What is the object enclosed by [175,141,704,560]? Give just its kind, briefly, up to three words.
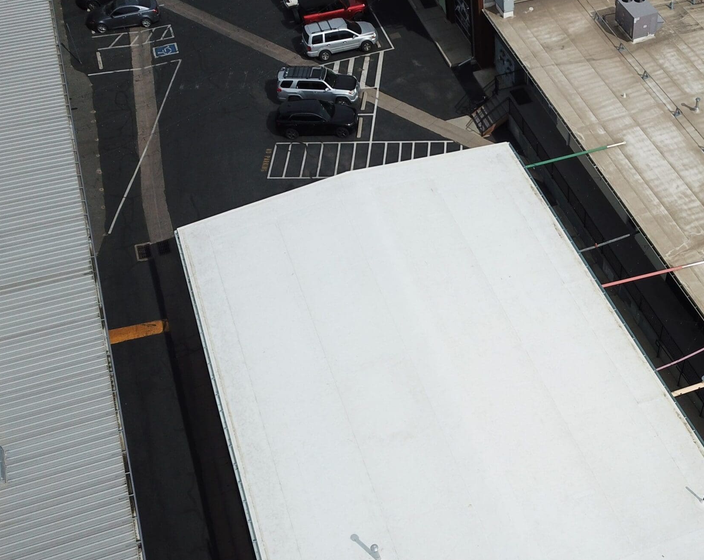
building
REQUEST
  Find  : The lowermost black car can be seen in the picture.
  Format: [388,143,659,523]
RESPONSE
[271,94,361,139]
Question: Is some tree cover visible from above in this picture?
No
